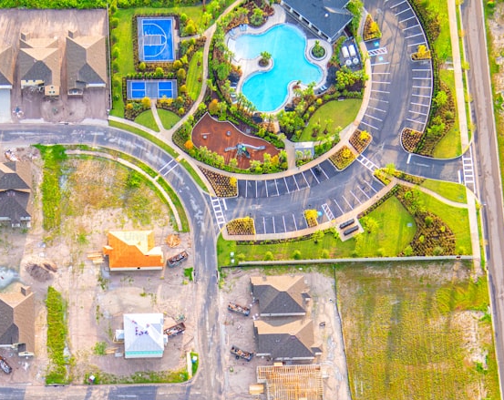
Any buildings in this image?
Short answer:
Yes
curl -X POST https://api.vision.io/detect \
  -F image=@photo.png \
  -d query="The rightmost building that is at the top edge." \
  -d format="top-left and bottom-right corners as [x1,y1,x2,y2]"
[273,0,372,45]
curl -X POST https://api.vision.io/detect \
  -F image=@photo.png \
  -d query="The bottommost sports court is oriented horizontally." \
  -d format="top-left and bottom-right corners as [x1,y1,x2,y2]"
[126,79,177,99]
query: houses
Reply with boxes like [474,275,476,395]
[255,366,325,400]
[114,313,169,358]
[18,31,60,98]
[103,231,163,274]
[250,276,312,318]
[64,29,107,98]
[0,159,31,230]
[253,320,322,364]
[0,284,34,358]
[0,46,12,92]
